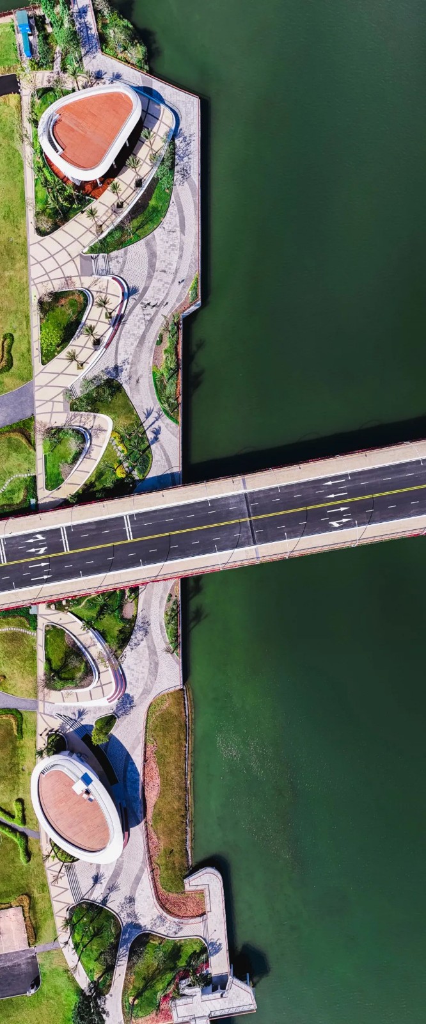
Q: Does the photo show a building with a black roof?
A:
No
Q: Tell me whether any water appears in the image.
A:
Yes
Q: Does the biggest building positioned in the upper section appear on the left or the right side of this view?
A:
left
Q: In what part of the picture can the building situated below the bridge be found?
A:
bottom left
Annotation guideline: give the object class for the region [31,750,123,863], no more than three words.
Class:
building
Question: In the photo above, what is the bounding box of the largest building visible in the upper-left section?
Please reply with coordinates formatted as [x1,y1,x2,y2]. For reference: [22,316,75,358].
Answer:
[38,85,144,199]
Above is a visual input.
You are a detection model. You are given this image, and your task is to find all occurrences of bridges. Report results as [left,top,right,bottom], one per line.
[0,438,426,611]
